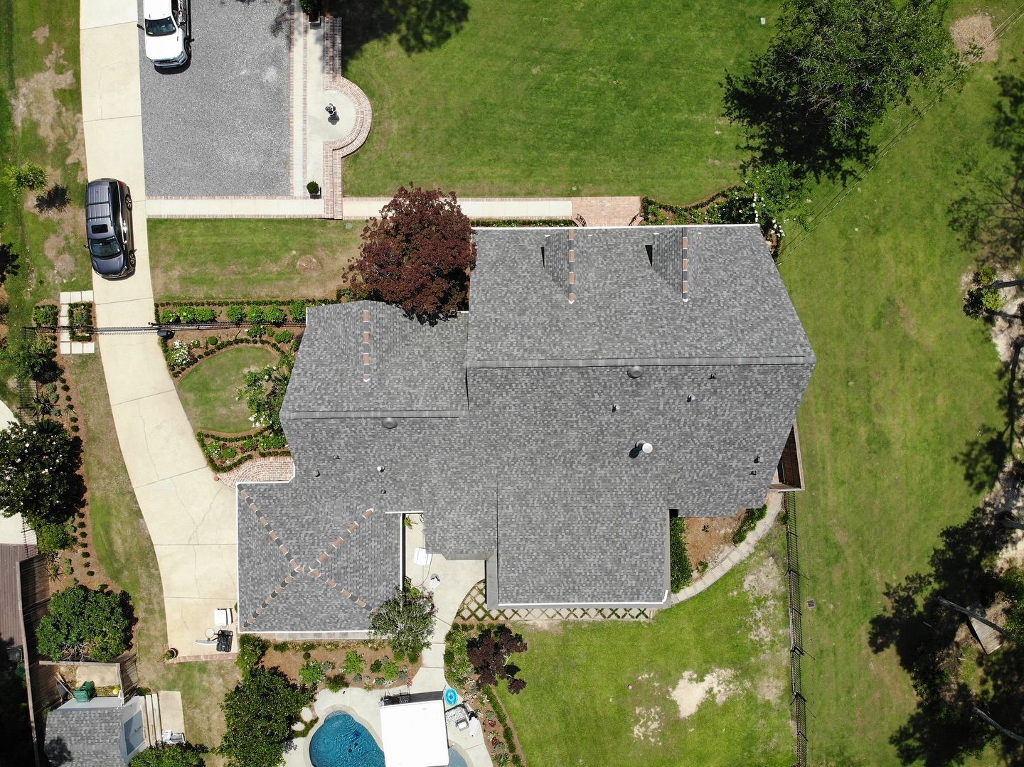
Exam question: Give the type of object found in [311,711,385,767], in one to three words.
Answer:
swimming pool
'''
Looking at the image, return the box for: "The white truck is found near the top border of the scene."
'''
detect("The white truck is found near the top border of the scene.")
[136,0,193,72]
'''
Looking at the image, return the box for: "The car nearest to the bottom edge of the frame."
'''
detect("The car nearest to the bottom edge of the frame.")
[86,177,139,280]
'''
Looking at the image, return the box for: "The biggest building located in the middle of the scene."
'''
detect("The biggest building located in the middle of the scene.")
[236,225,813,635]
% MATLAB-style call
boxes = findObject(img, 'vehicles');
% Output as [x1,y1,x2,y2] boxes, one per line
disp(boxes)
[136,0,193,72]
[86,177,139,280]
